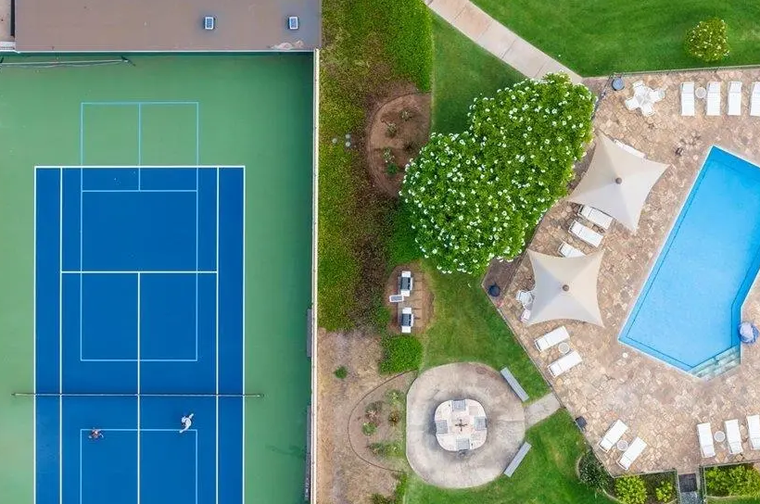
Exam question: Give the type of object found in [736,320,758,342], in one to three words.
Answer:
umbrella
